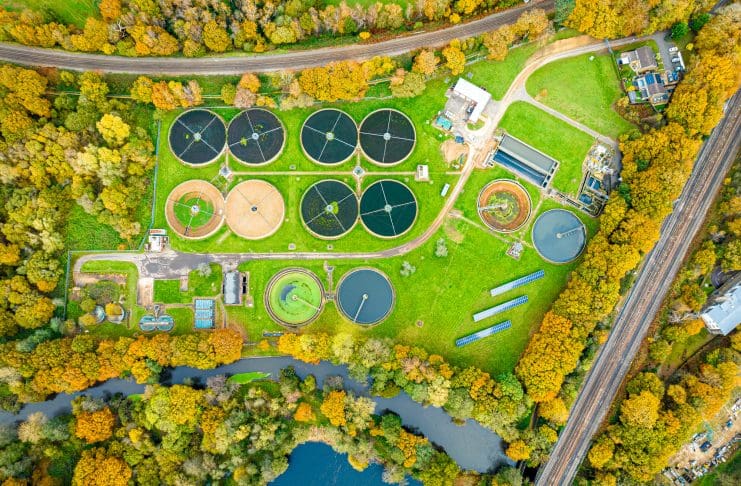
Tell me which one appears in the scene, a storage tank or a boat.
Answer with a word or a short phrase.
storage tank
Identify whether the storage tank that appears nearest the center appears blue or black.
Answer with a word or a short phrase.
blue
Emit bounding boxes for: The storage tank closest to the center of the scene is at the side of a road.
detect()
[336,267,394,326]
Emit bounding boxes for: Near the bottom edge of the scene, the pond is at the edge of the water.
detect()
[266,440,418,486]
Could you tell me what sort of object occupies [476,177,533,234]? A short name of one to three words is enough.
storage tank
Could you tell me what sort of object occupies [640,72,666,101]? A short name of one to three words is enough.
house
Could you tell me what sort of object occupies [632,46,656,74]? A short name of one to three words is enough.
house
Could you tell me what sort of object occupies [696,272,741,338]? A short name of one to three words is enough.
building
